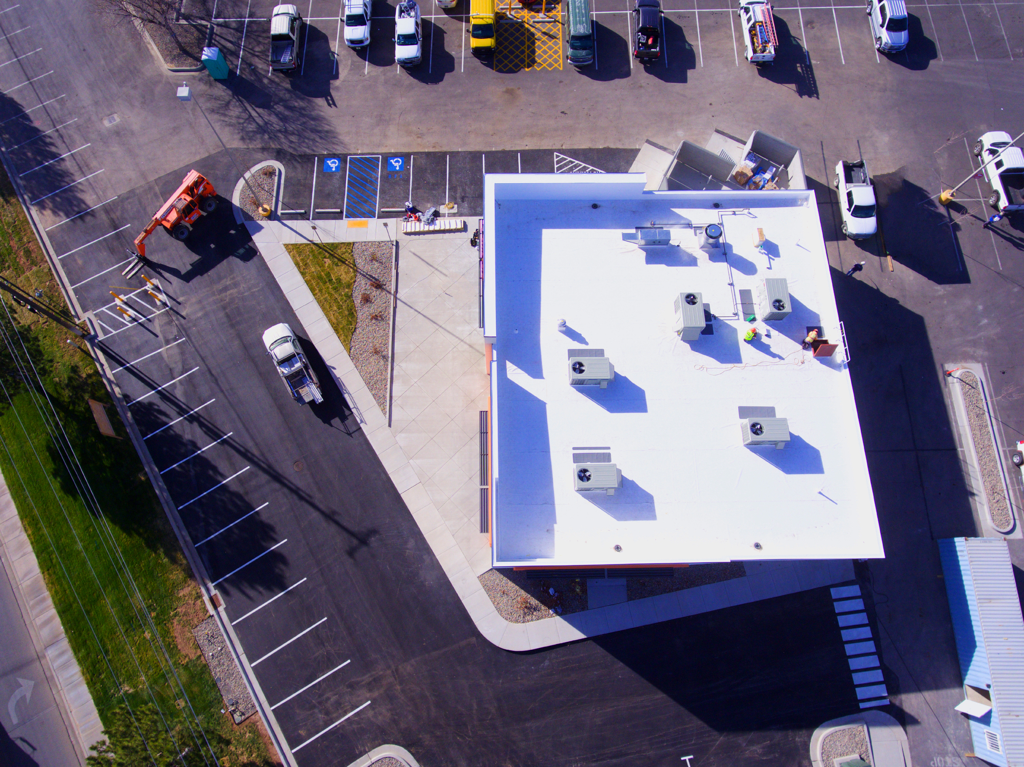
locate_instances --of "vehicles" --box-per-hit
[630,0,662,53]
[867,0,910,53]
[467,0,498,53]
[835,163,878,240]
[743,0,779,54]
[436,0,458,9]
[263,323,324,408]
[980,133,1024,204]
[342,0,376,47]
[1013,439,1024,471]
[391,2,423,65]
[267,4,301,72]
[564,0,596,65]
[132,168,220,272]
[516,0,538,5]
